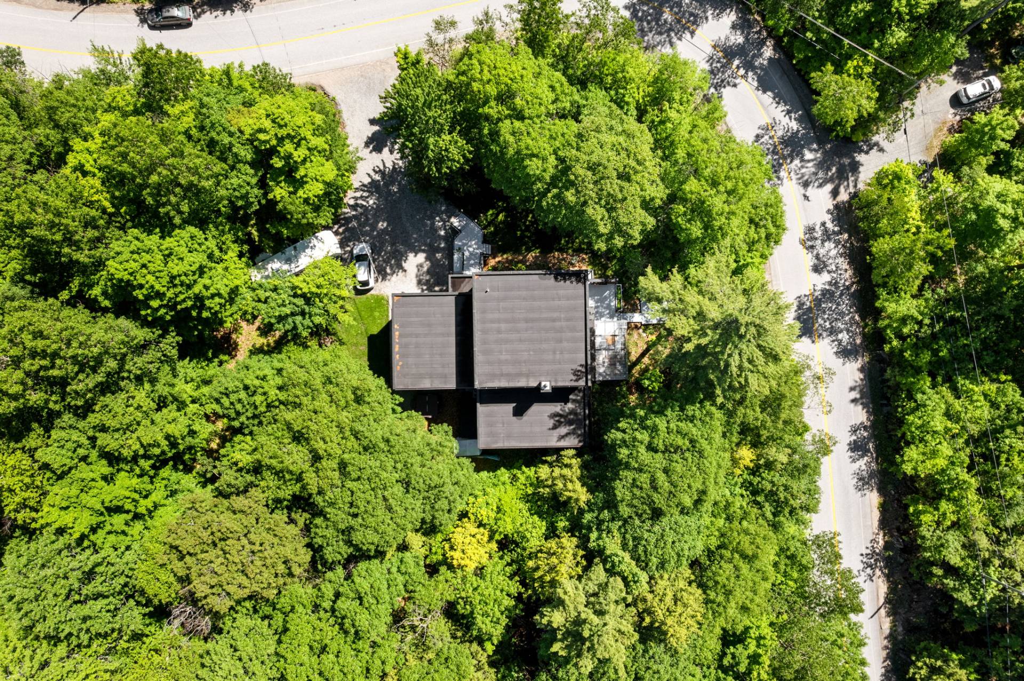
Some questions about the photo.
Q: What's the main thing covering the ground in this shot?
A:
trees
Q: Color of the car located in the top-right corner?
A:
white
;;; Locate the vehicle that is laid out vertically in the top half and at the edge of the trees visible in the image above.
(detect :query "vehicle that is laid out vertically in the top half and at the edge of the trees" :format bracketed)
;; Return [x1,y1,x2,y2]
[352,245,376,291]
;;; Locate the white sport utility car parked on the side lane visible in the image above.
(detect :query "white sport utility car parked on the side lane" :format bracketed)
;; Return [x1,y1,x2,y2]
[953,73,1001,107]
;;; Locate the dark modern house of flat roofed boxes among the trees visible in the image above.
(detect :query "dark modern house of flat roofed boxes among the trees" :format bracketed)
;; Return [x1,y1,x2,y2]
[392,270,591,450]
